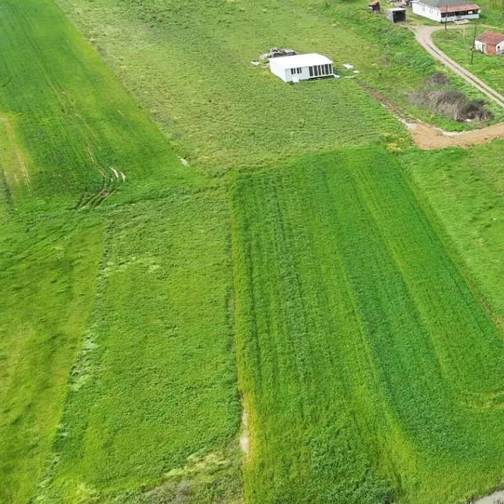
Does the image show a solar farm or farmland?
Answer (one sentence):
This looks like farmland.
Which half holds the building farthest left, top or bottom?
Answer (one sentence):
You can find the building farthest left in the top half.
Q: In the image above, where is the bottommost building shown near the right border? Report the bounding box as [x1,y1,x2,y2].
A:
[470,26,504,55]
